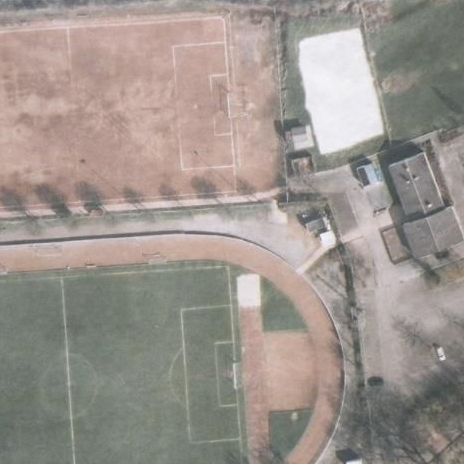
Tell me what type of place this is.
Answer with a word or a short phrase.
sports ground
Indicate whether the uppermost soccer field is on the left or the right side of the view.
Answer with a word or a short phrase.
left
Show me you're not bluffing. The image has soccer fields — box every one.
[0,260,319,464]
[0,13,242,212]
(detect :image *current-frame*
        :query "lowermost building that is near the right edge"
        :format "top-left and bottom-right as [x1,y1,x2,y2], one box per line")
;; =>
[402,207,464,259]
